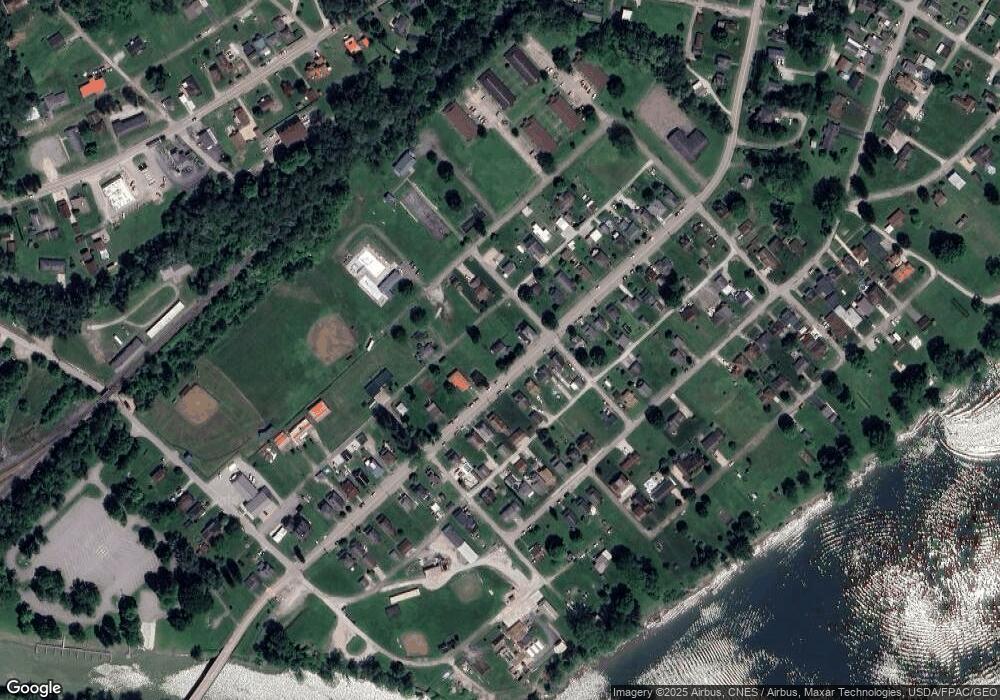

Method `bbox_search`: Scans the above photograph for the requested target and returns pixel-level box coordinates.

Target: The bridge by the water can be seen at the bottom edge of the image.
[184,630,242,700]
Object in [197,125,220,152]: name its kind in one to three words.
house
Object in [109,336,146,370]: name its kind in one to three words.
shed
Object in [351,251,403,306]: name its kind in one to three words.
building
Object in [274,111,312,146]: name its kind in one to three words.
barn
